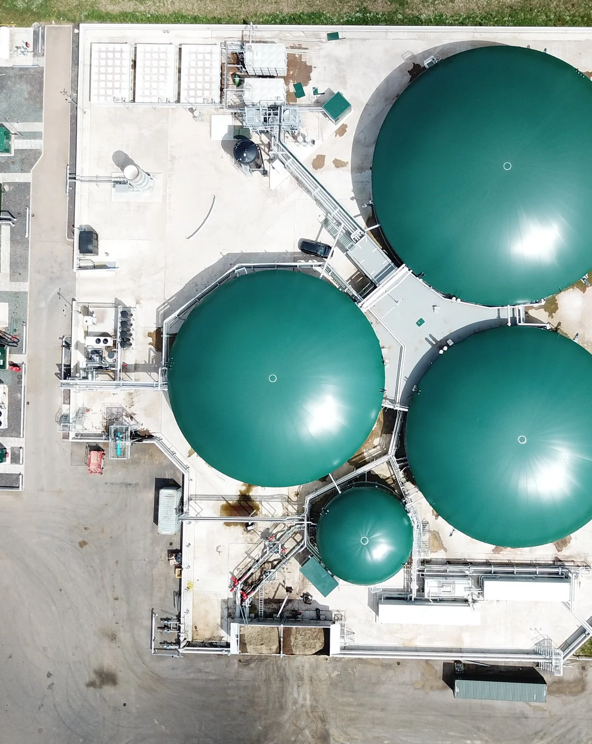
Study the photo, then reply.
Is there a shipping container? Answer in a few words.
Yes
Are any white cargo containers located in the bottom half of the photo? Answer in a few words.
Yes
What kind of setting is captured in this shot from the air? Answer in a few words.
industrial area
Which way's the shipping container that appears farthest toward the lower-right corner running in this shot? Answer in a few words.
horizontally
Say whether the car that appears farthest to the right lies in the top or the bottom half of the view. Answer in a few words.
top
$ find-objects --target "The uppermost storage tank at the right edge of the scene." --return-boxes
[369,46,592,308]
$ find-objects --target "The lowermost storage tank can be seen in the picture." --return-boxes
[314,482,413,596]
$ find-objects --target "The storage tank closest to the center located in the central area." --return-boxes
[167,269,390,488]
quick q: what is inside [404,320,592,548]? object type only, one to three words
storage tank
